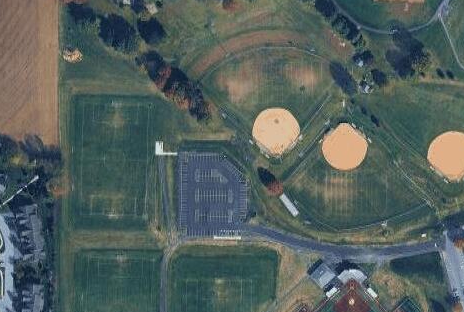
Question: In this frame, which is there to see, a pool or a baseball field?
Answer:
baseball field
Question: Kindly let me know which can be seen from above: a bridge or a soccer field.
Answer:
soccer field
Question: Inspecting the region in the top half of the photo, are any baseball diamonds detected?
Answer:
Yes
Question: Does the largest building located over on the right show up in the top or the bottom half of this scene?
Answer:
bottom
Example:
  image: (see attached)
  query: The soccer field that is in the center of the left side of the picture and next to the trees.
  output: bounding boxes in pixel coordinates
[72,94,160,230]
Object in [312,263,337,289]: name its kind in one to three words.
building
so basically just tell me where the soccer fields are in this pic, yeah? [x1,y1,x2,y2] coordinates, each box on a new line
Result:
[74,250,163,312]
[72,94,160,230]
[170,252,278,312]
